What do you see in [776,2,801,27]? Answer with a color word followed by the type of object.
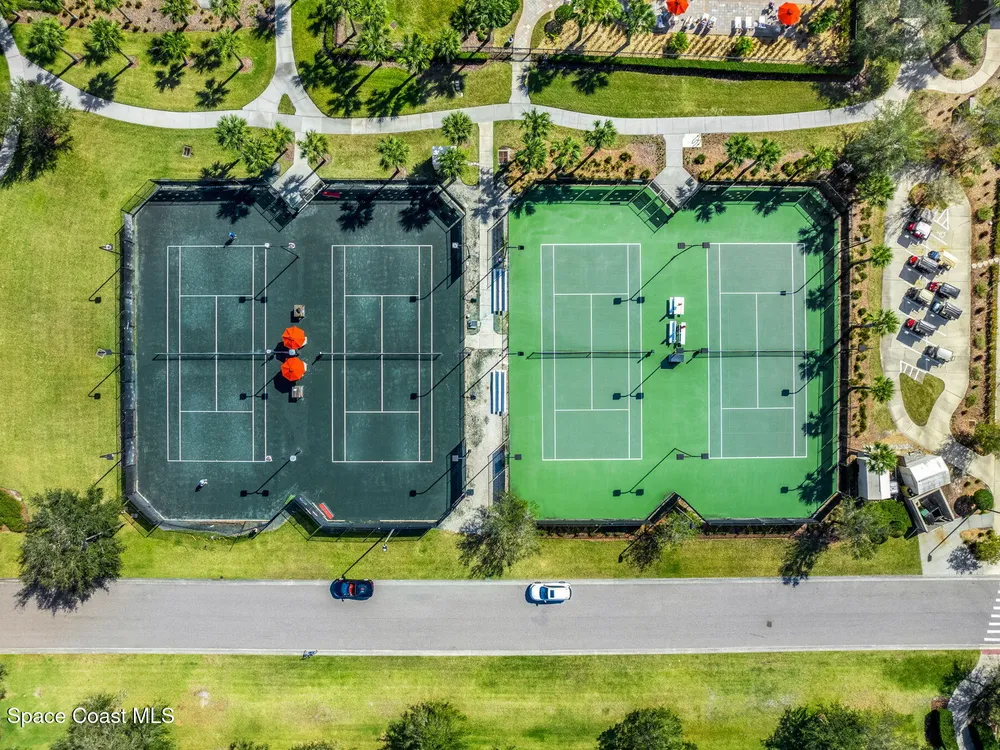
red umbrella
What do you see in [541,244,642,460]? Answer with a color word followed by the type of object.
green tennis court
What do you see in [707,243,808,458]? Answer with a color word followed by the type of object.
green tennis court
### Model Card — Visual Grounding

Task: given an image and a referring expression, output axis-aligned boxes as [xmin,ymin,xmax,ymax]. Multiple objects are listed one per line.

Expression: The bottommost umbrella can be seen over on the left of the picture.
[282,357,306,381]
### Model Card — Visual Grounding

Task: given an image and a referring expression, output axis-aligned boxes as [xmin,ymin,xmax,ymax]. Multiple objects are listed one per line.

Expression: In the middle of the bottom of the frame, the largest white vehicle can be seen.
[529,584,571,606]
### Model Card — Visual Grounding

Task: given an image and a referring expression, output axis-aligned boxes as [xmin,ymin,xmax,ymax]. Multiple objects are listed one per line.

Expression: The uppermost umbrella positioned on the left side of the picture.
[282,326,305,349]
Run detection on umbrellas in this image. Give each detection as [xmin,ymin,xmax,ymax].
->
[776,2,801,27]
[282,326,305,349]
[665,0,688,18]
[282,357,306,381]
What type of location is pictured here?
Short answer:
sports ground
